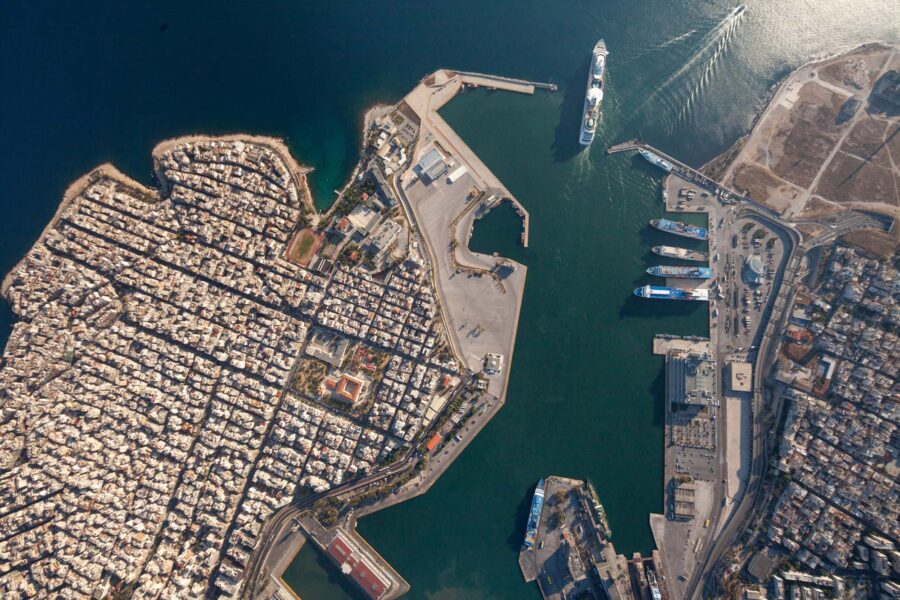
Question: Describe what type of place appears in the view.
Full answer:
The picture captures a port.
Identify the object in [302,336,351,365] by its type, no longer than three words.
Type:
building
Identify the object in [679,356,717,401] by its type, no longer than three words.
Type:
building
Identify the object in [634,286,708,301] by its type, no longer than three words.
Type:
ship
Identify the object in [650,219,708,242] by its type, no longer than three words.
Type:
ship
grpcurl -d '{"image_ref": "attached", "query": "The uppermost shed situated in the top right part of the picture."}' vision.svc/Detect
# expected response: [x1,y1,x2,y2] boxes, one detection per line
[835,96,861,123]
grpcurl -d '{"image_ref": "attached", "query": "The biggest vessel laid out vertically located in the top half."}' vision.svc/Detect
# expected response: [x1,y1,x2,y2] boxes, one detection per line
[577,41,607,148]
